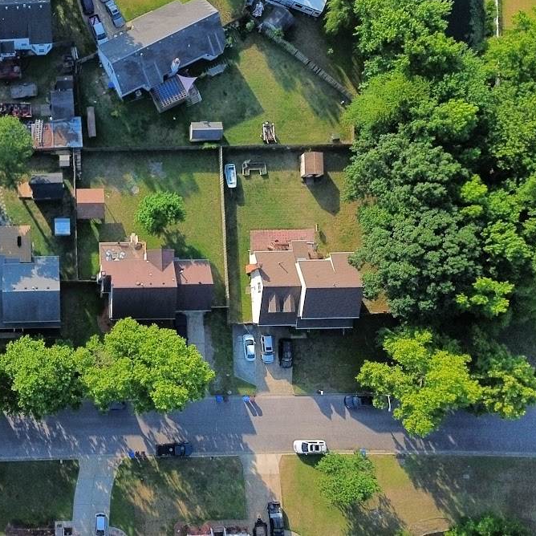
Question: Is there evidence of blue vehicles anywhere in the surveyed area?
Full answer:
Yes, a blue vehicle is visible in the scene.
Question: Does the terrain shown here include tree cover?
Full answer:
Yes, there's tree cover in this view.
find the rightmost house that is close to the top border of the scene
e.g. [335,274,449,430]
[97,0,231,108]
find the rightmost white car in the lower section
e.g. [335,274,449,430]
[292,439,329,456]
